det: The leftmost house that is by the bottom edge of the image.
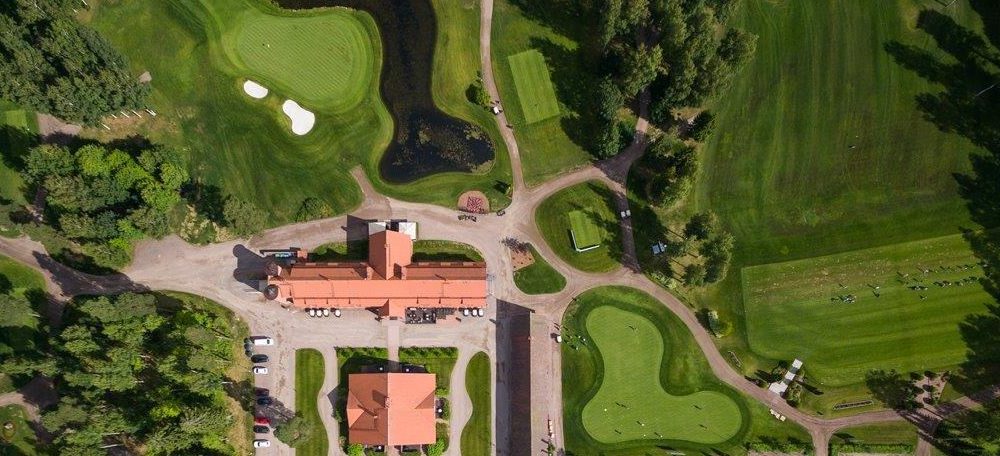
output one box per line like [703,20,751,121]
[347,374,438,447]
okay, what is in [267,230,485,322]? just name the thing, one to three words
building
